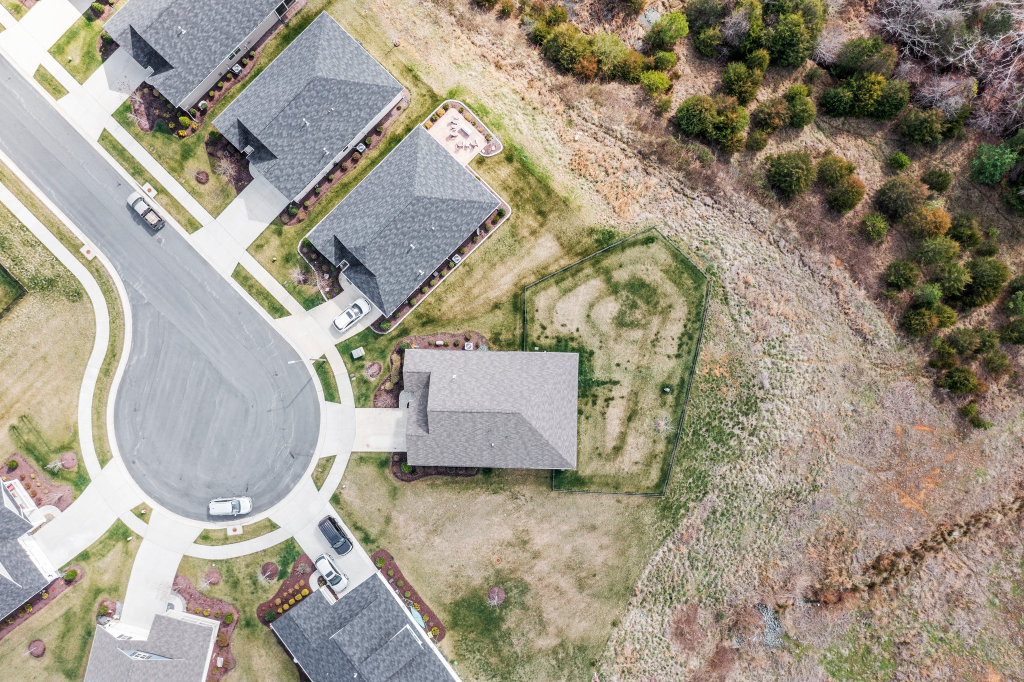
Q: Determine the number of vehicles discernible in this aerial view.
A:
5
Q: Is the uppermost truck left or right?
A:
left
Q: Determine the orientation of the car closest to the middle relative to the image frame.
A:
at an angle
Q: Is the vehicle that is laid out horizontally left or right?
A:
left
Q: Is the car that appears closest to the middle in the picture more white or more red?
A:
white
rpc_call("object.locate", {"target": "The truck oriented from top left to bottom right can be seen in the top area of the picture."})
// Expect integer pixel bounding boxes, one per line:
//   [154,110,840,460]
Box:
[123,189,171,237]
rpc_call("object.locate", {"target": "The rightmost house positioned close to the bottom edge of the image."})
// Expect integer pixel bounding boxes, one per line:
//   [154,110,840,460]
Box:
[270,568,452,682]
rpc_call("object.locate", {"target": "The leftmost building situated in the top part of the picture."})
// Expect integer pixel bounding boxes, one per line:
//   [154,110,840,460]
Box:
[102,0,280,109]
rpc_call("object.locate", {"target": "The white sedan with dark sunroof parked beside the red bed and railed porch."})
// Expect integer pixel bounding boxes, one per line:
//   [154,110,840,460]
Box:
[315,550,349,594]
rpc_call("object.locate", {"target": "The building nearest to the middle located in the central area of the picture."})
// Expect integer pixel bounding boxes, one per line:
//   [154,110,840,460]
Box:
[402,346,579,469]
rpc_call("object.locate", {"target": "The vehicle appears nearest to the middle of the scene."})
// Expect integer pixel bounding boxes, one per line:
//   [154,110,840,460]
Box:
[332,297,374,334]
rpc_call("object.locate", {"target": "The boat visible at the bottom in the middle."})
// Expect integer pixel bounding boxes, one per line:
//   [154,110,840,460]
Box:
[410,607,426,629]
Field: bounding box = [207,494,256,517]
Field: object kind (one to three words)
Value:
vehicle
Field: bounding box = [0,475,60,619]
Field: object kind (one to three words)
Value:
house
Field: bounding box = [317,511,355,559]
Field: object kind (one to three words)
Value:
car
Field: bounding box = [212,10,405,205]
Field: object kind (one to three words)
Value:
house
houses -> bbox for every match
[102,0,280,109]
[306,123,502,318]
[0,475,60,619]
[212,10,405,205]
[82,604,223,682]
[402,346,579,469]
[270,568,452,682]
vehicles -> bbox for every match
[207,494,256,517]
[123,189,171,237]
[332,297,374,334]
[315,550,349,594]
[317,511,355,559]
